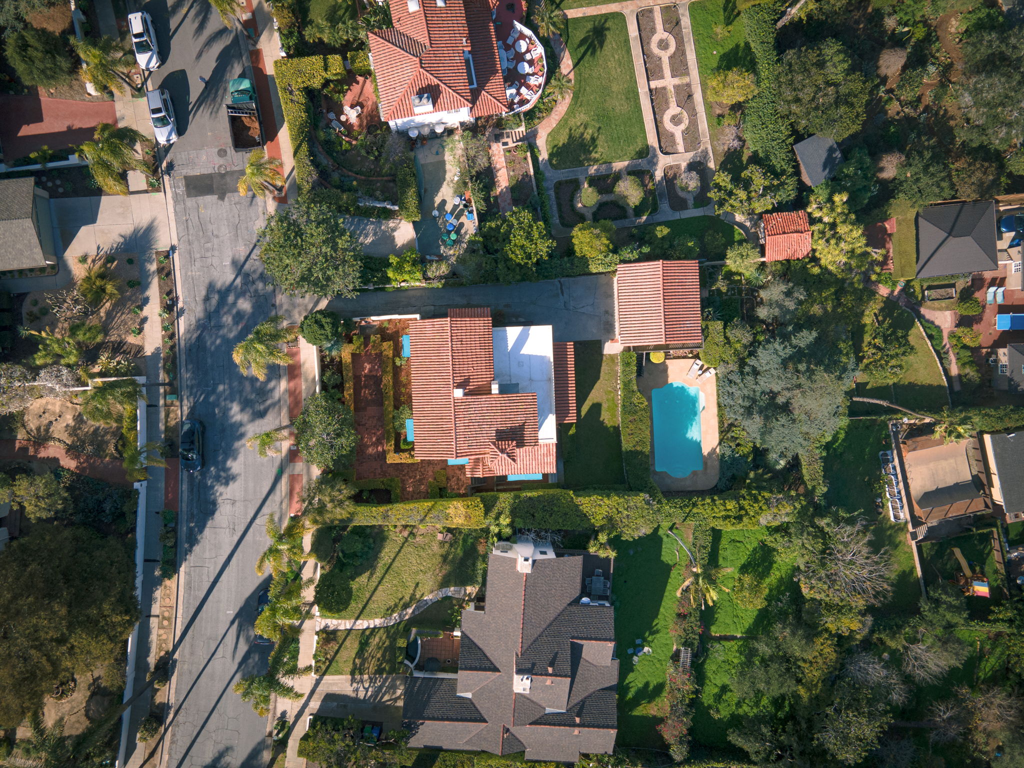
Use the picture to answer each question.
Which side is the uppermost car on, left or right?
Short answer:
left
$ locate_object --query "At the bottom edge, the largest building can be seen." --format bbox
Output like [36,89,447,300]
[402,539,619,763]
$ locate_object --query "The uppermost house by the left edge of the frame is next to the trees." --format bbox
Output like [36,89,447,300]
[0,173,56,270]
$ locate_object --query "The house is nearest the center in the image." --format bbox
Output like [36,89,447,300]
[402,306,578,481]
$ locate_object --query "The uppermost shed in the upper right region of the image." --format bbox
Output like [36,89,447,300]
[789,134,844,190]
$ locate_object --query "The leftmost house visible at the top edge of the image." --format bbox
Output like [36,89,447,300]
[366,0,510,138]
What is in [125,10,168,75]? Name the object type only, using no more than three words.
car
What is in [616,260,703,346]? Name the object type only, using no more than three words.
building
